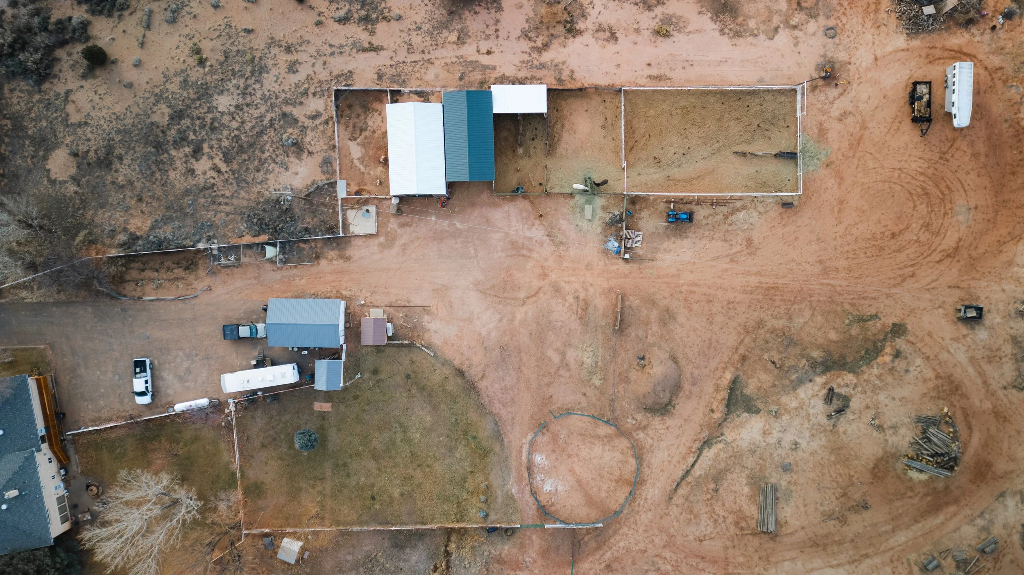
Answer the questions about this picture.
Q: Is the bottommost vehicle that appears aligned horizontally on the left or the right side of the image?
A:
left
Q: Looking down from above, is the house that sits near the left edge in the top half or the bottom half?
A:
bottom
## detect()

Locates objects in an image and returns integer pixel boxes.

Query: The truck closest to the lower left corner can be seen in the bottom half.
[131,358,156,405]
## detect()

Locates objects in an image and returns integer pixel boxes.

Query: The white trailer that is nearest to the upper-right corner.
[942,62,973,130]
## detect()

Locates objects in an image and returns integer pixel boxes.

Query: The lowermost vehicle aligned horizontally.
[222,361,313,393]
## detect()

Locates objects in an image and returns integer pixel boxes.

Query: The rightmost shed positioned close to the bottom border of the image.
[277,536,305,564]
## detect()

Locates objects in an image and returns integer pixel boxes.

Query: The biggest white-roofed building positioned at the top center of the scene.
[386,102,448,200]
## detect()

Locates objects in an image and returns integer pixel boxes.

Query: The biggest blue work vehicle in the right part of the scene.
[667,209,696,224]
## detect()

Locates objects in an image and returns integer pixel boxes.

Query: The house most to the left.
[0,374,74,555]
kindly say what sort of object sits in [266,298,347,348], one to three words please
building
